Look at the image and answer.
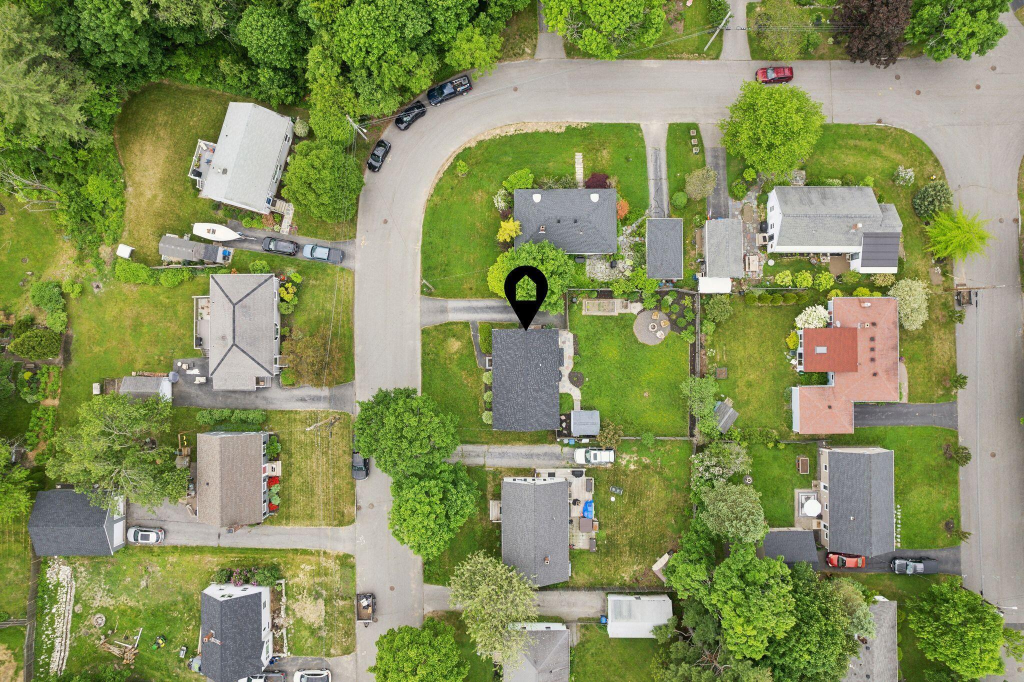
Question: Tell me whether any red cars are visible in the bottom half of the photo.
Yes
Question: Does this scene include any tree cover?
Yes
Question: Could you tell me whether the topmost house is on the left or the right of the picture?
left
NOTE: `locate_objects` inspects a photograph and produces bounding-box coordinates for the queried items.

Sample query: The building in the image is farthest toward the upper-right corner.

[753,186,911,274]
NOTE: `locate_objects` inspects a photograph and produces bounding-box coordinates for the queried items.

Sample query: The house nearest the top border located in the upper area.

[201,100,295,216]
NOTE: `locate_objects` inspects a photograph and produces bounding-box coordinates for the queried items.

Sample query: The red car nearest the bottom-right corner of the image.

[825,552,867,571]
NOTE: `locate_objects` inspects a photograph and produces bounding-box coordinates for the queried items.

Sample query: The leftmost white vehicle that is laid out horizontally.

[126,526,166,545]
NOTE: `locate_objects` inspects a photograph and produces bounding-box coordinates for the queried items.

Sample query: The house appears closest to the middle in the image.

[484,328,565,433]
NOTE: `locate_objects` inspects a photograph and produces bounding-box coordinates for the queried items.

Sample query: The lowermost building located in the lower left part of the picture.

[200,583,277,681]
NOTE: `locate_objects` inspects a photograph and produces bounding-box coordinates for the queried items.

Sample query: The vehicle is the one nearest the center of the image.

[574,447,615,466]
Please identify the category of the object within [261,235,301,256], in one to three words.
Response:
car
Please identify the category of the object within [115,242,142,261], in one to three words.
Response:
shed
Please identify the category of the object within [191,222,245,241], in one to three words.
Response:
boat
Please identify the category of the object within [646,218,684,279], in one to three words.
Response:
building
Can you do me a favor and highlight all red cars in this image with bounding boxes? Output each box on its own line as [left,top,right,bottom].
[825,552,867,571]
[755,64,795,84]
